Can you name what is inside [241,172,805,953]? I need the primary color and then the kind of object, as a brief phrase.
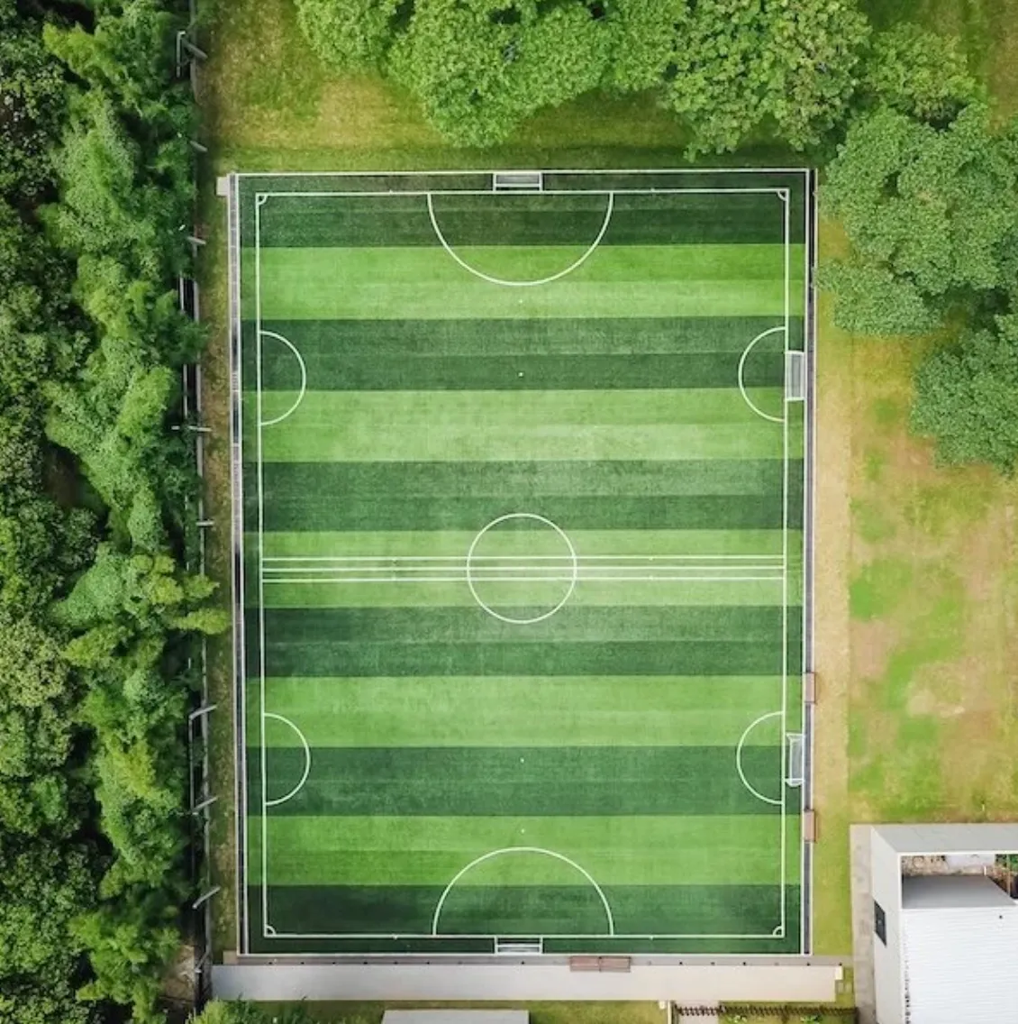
green soccer field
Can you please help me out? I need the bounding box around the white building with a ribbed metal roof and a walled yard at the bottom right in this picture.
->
[872,821,1018,1024]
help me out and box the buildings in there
[872,821,1018,1024]
[385,1009,529,1024]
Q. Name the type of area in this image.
sports ground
